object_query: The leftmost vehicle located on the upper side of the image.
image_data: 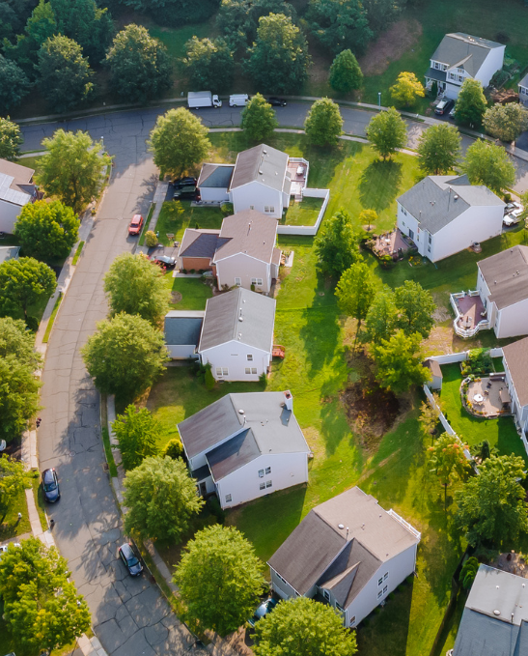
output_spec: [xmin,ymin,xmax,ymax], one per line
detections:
[126,211,143,233]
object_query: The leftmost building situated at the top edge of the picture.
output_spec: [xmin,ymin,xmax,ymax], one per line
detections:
[423,23,504,93]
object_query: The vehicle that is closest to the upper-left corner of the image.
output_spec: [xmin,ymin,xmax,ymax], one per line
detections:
[182,88,219,109]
